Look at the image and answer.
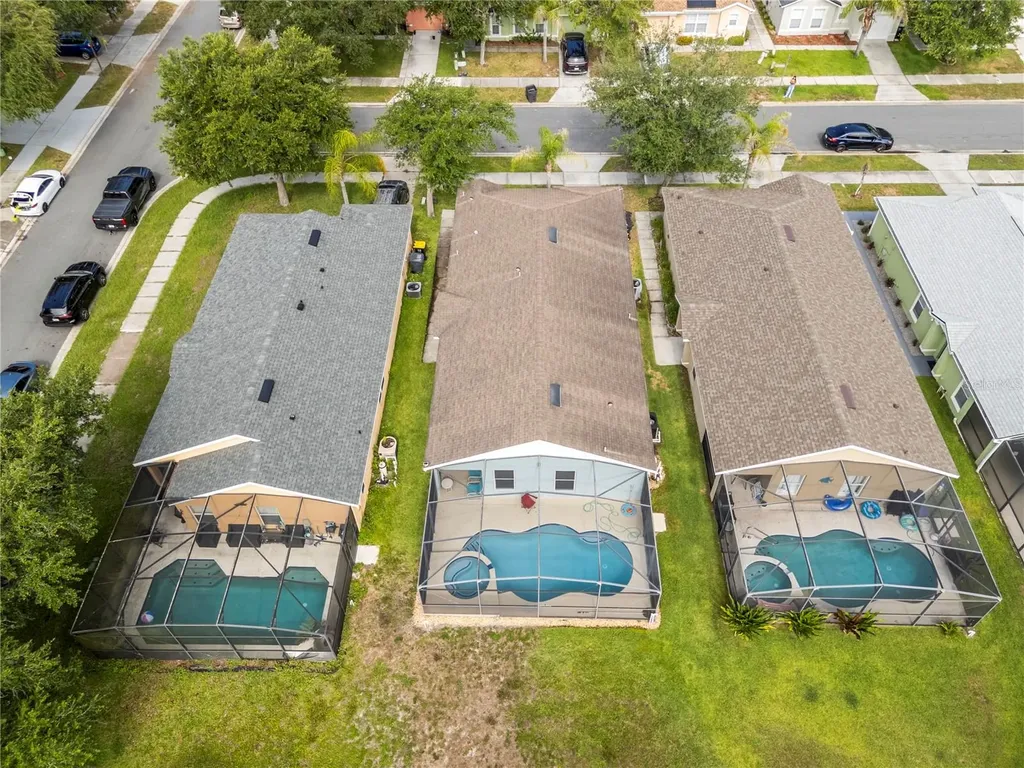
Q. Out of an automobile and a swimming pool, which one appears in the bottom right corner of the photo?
swimming pool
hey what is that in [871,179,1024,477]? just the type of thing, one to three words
house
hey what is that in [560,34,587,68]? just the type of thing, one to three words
car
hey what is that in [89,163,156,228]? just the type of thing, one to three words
truck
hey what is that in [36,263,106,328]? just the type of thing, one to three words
car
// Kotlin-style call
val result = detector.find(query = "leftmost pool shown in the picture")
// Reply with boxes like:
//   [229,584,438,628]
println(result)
[136,558,328,633]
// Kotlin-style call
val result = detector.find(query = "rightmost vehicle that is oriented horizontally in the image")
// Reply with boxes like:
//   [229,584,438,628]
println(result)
[819,119,900,152]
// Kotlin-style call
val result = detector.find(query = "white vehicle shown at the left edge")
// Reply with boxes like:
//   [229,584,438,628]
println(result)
[0,166,64,215]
